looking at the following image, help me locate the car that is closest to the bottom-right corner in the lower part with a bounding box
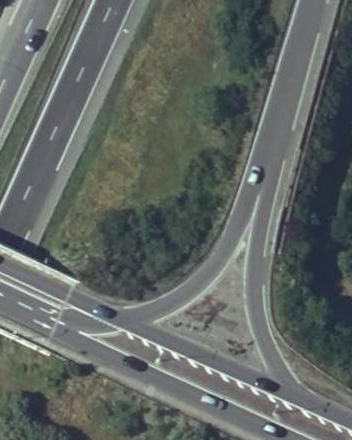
[264,423,285,438]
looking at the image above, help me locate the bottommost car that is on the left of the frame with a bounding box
[124,356,145,372]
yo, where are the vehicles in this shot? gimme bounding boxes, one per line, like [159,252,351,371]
[93,304,114,320]
[264,423,285,438]
[202,394,223,410]
[248,164,262,186]
[256,378,278,393]
[27,30,42,51]
[124,356,145,372]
